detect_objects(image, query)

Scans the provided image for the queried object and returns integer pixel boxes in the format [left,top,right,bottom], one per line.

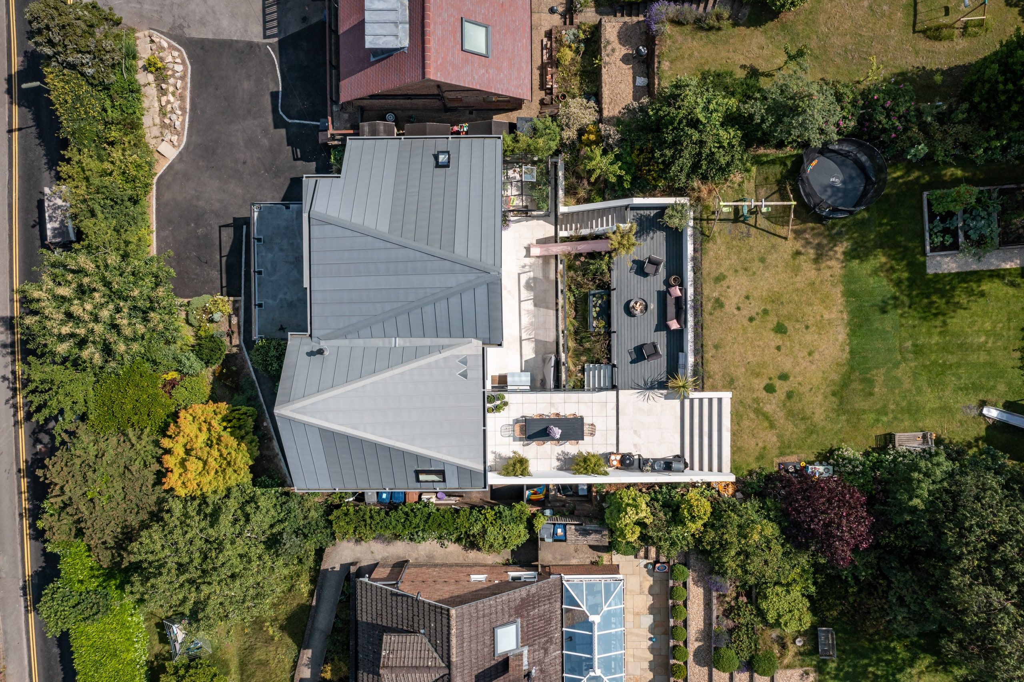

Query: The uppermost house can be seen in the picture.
[337,0,533,114]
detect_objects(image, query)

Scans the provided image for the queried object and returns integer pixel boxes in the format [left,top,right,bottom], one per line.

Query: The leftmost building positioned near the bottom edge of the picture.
[353,559,564,682]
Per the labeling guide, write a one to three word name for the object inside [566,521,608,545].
building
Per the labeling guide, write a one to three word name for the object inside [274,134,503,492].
house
